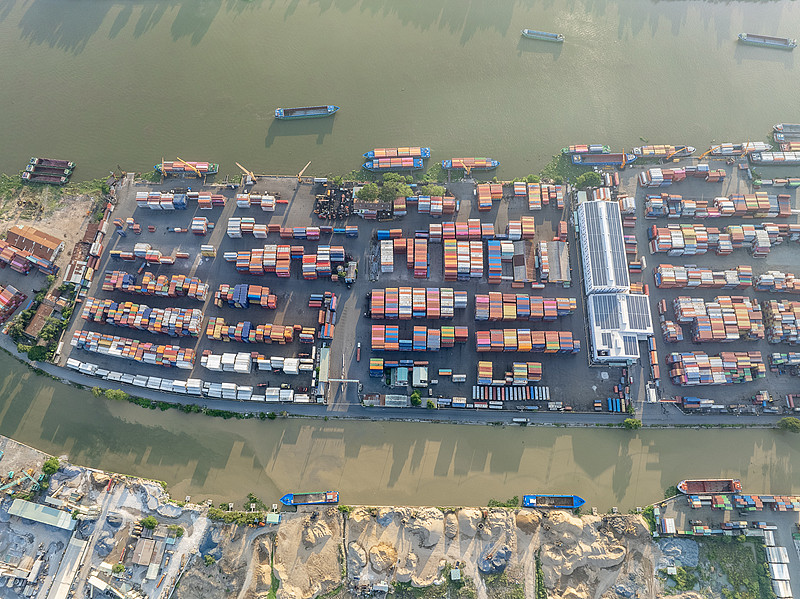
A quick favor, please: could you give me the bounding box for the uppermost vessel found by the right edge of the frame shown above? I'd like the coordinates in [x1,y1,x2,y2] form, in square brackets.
[738,34,797,50]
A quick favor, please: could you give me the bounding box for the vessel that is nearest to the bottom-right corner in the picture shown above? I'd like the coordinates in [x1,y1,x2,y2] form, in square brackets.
[677,476,743,494]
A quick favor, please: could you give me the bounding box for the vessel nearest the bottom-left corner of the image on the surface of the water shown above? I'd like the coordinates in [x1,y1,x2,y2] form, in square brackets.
[280,488,339,504]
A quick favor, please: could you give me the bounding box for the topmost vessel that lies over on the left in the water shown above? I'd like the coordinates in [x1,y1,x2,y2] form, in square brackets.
[275,104,340,119]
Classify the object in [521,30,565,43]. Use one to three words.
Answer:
vessel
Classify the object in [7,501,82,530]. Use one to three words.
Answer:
shed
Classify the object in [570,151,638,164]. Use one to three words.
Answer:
vessel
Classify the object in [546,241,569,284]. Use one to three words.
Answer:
building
